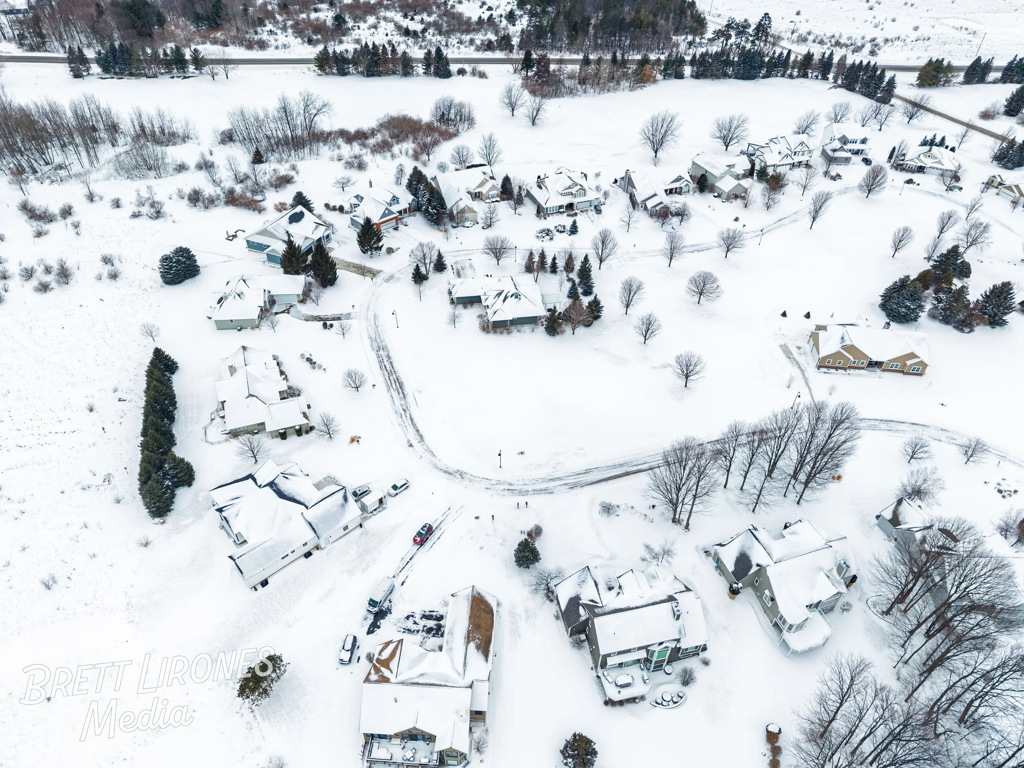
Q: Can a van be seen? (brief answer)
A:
Yes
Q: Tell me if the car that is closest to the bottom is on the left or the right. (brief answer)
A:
left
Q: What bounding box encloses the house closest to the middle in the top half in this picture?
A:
[448,274,562,330]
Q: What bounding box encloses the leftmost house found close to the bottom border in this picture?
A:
[359,588,496,768]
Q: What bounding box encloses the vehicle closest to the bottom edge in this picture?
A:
[338,628,360,667]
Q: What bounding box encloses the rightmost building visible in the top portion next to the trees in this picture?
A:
[974,172,1024,207]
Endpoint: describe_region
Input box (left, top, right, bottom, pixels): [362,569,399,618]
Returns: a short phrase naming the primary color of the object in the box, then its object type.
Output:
white van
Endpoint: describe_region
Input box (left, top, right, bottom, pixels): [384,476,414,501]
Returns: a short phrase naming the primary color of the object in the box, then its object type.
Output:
white car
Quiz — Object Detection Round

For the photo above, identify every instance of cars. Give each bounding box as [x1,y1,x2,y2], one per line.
[860,155,876,165]
[351,481,375,501]
[338,628,360,667]
[594,205,603,214]
[384,476,414,501]
[411,519,437,547]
